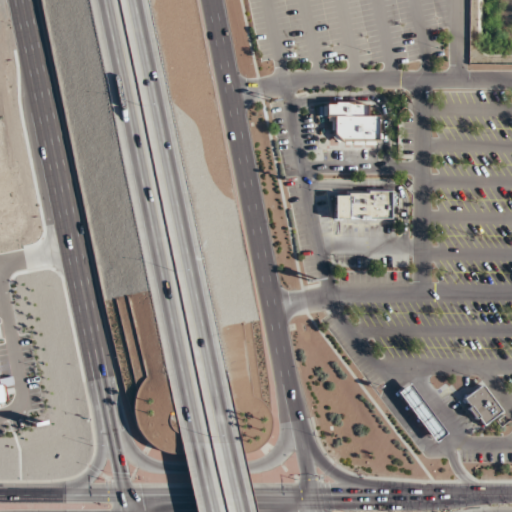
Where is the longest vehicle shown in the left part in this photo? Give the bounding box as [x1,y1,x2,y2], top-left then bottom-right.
[116,78,128,121]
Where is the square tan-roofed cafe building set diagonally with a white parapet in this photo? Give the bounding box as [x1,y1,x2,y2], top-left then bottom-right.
[466,386,505,426]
